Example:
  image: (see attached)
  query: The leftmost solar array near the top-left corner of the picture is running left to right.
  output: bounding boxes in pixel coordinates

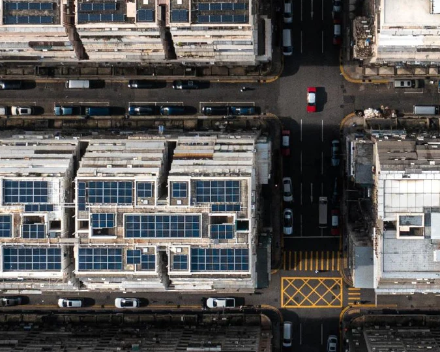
[9,3,58,21]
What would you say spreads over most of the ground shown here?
buildings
